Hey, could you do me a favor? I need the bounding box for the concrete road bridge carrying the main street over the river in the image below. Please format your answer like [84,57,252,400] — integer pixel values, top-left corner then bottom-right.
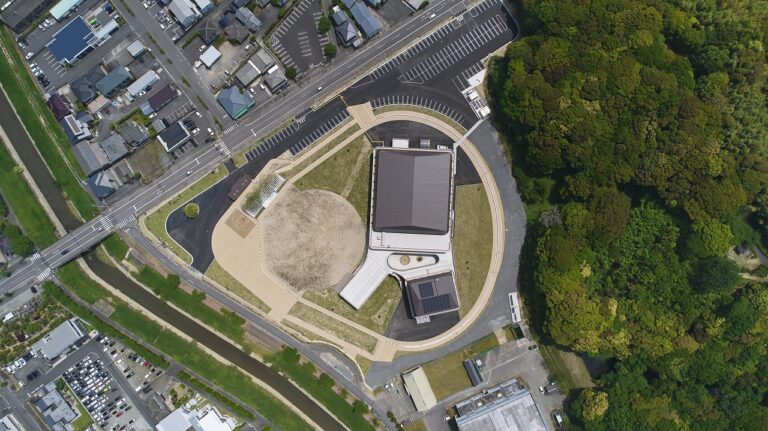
[37,212,118,272]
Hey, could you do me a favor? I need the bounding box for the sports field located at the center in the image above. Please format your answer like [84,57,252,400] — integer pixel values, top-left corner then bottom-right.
[262,189,367,292]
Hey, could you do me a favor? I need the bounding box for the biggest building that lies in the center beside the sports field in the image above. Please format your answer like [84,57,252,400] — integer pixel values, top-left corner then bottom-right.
[370,147,454,238]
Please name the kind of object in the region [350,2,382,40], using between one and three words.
building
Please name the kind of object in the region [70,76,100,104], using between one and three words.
house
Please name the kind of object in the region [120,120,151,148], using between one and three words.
house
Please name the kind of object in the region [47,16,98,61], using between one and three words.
building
